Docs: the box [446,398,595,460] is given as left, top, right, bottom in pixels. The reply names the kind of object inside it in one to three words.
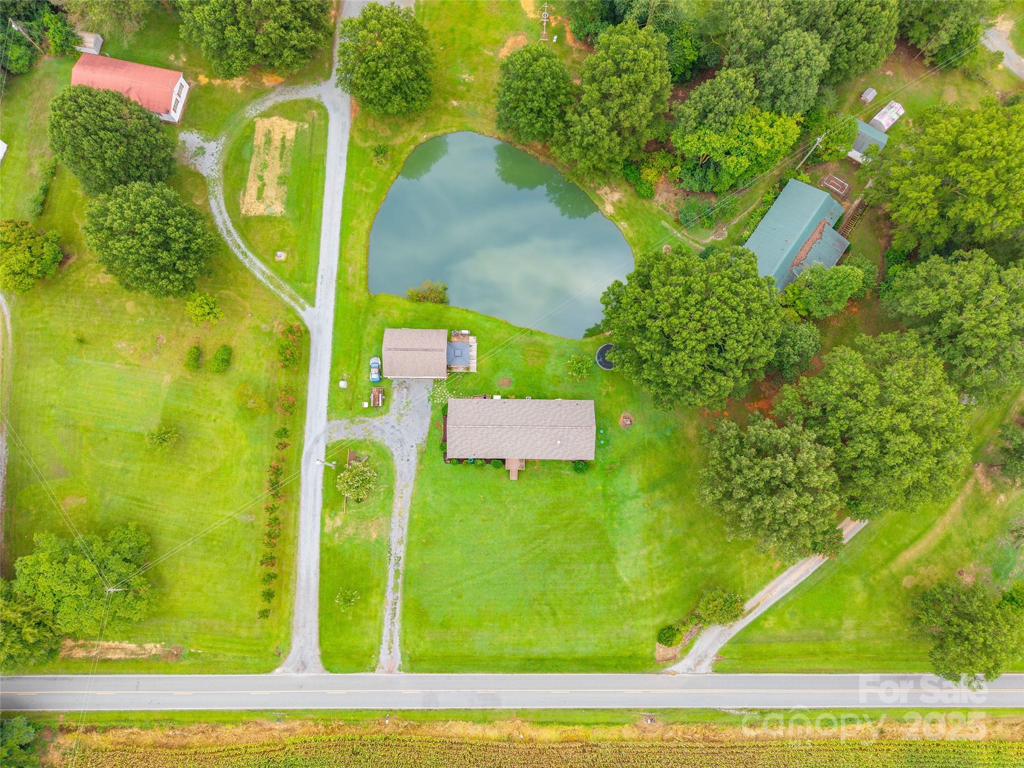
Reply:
house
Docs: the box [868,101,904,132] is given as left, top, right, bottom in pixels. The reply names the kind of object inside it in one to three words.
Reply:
shed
